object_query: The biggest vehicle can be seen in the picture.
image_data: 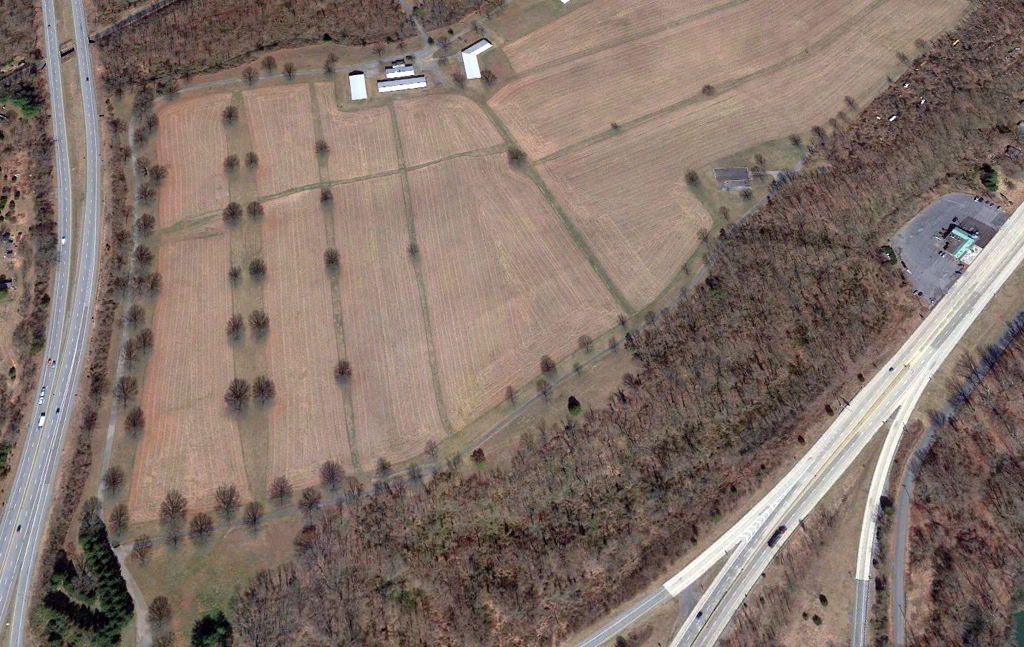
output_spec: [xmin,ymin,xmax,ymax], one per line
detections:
[768,527,785,546]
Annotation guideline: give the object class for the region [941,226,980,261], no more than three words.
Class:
building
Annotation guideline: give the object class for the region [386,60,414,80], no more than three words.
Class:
barn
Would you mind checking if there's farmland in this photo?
Yes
